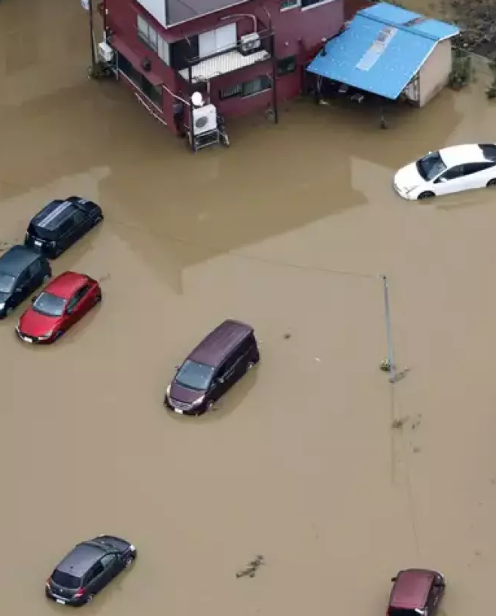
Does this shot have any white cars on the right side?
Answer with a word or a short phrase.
Yes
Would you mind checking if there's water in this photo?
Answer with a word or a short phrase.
Yes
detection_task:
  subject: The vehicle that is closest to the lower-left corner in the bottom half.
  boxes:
[43,531,135,607]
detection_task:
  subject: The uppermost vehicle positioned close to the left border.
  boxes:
[20,190,106,257]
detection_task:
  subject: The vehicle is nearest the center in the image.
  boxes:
[163,317,261,415]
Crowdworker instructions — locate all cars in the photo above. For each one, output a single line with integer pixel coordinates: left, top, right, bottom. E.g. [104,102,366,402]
[391,140,496,197]
[43,531,135,607]
[395,569,451,616]
[0,240,52,316]
[163,317,261,415]
[20,190,106,257]
[14,263,103,343]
